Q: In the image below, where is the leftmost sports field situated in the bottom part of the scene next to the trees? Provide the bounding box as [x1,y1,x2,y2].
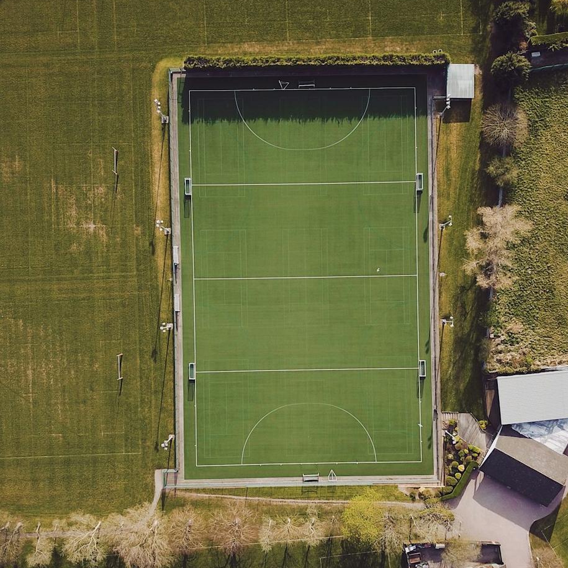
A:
[0,279,153,463]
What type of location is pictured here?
sports ground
